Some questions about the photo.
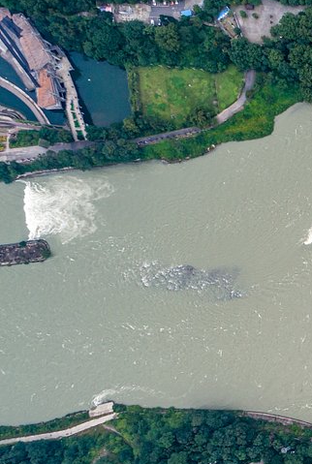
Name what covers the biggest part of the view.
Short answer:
water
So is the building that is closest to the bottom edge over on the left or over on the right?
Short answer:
left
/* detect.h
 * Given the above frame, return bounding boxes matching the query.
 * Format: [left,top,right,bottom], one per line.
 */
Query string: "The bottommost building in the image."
[34,66,68,111]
